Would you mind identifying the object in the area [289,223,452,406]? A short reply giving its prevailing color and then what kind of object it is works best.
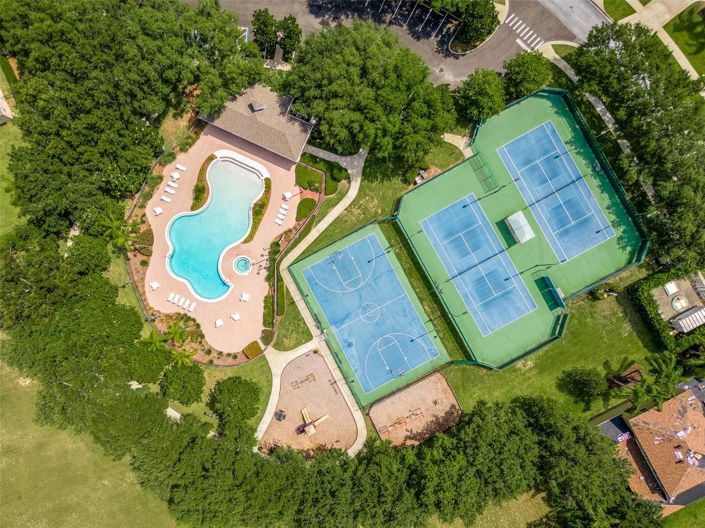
blue basketball court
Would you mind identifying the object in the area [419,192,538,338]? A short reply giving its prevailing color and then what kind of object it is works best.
blue tennis court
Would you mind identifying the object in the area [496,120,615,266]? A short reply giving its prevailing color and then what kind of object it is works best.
blue tennis court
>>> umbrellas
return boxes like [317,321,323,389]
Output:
[230,311,241,322]
[240,293,249,302]
[170,171,181,182]
[153,205,164,217]
[283,191,293,201]
[214,318,224,327]
[149,279,160,291]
